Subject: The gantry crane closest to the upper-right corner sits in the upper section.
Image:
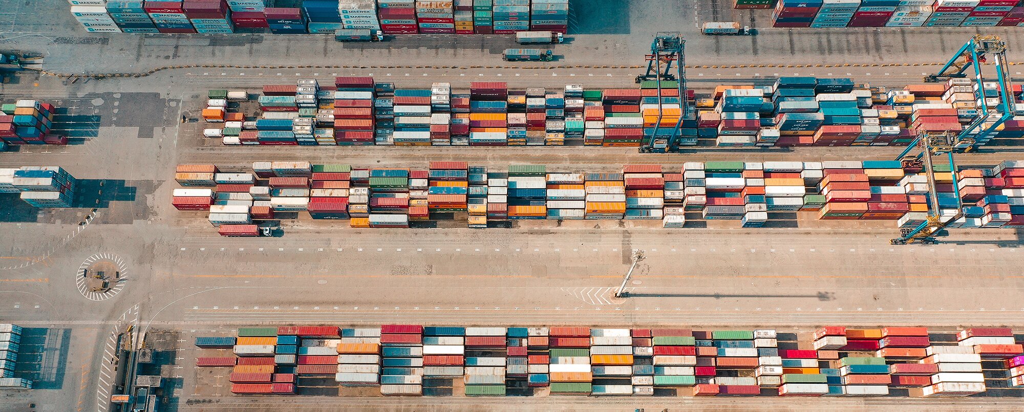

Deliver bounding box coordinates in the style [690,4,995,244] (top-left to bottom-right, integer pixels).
[921,29,1014,155]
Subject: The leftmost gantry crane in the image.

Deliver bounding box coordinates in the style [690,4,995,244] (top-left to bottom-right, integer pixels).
[635,24,690,155]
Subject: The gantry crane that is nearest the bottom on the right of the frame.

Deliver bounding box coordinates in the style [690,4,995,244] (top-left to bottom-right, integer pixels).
[883,124,965,249]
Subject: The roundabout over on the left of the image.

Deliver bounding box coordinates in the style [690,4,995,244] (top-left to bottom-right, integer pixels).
[75,251,128,303]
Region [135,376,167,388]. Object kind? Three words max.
building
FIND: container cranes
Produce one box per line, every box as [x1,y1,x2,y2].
[635,24,690,155]
[883,124,965,249]
[921,29,1014,155]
